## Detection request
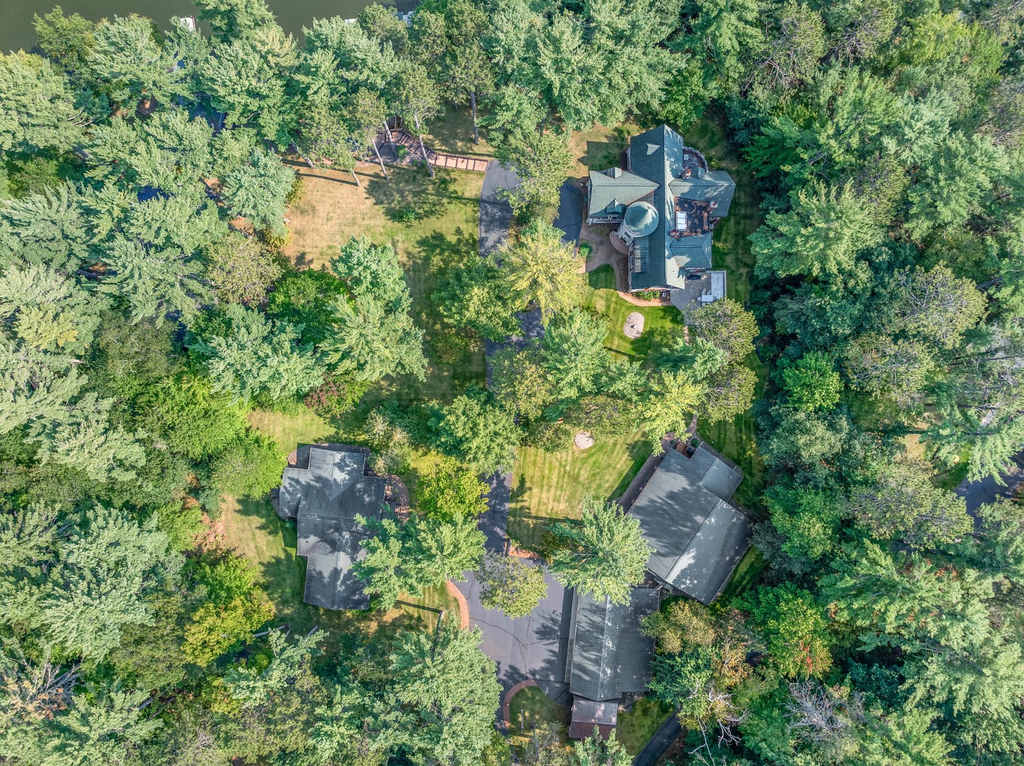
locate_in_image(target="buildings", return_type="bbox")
[280,448,386,609]
[582,124,736,293]
[624,447,751,603]
[565,584,660,702]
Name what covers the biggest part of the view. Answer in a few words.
trees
